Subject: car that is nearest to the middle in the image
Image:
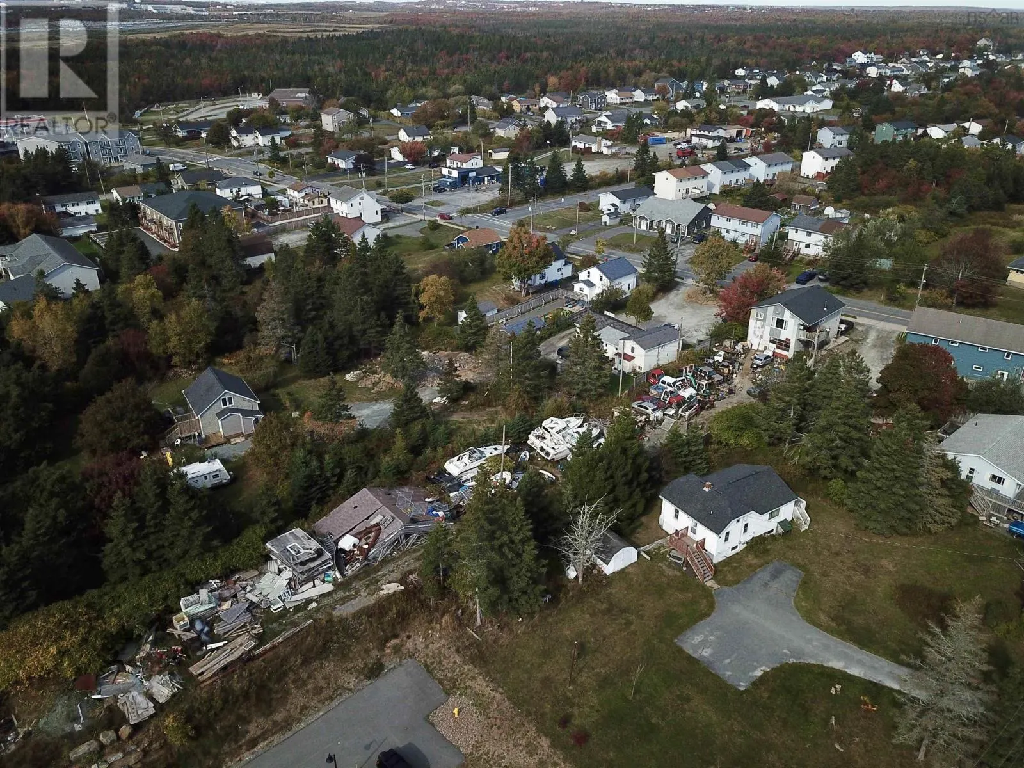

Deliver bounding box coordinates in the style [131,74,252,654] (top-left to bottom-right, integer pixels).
[555,344,574,357]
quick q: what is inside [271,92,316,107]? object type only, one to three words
building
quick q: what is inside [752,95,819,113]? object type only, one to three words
building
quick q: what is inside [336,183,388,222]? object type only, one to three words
house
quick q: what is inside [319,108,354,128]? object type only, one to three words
house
